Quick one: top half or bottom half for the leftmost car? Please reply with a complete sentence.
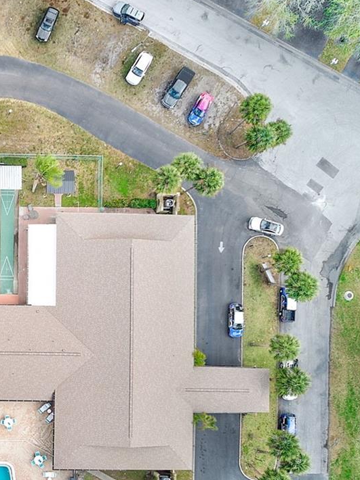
The leftmost car sits in the top half of the picture.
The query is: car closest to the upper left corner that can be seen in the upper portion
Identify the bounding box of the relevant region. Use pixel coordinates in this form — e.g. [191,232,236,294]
[37,5,57,44]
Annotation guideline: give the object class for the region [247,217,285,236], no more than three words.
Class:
car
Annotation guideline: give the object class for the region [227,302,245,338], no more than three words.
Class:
car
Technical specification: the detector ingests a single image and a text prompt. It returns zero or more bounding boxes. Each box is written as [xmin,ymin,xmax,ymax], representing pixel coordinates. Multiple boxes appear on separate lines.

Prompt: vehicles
[227,302,245,338]
[278,287,298,324]
[278,411,298,441]
[187,91,212,127]
[247,217,285,236]
[127,50,151,87]
[163,64,194,109]
[37,5,57,44]
[110,1,147,26]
